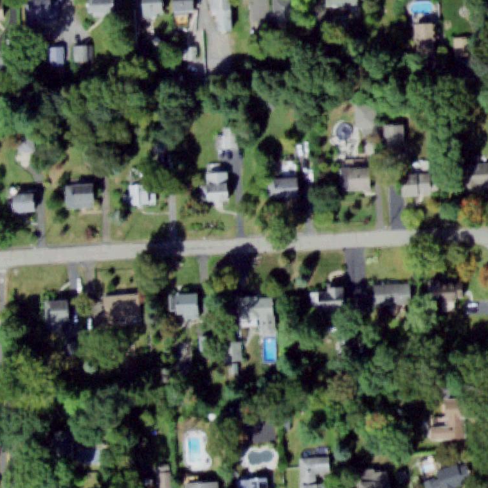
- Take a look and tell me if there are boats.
No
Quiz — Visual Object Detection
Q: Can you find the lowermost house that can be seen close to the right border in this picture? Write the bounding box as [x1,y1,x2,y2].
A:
[422,468,468,488]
